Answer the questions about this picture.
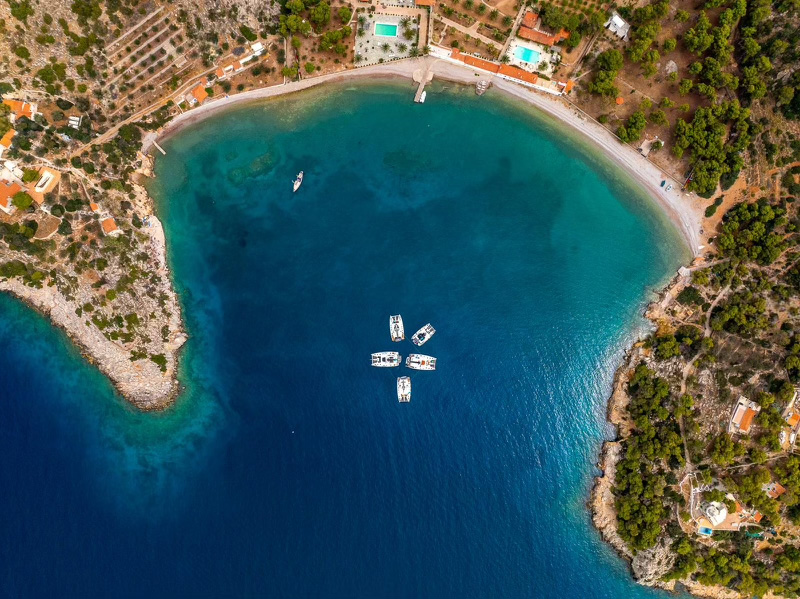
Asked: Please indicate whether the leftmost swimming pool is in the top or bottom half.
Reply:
top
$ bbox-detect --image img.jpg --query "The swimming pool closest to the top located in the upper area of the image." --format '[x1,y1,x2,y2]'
[373,21,399,38]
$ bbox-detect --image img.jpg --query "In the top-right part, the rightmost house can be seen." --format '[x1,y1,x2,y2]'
[600,11,634,43]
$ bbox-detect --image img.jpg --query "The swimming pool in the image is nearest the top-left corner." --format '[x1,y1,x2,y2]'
[35,169,55,191]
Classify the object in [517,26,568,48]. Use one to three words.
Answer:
house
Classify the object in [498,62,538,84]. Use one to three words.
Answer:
building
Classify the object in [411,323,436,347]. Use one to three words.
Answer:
boat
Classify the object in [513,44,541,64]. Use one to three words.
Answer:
swimming pool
